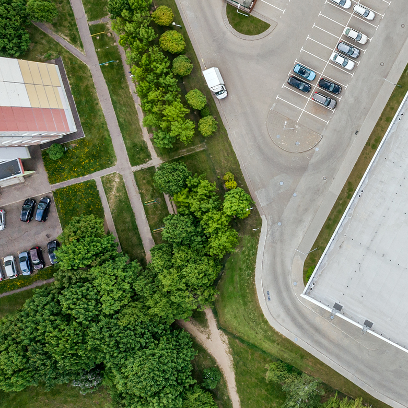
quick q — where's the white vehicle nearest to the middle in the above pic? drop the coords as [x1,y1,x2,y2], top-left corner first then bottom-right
[203,66,228,101]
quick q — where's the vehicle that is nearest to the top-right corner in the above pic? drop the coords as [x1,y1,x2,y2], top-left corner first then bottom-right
[351,2,377,21]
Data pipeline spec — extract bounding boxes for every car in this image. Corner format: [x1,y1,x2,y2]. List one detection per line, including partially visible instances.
[330,0,354,10]
[351,2,377,21]
[329,51,357,71]
[49,240,64,265]
[317,77,344,95]
[21,198,38,223]
[17,250,36,277]
[286,75,314,94]
[0,209,9,232]
[0,260,5,281]
[35,197,53,223]
[30,246,47,271]
[334,40,363,60]
[4,254,22,280]
[311,90,339,109]
[342,26,370,45]
[291,63,318,82]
